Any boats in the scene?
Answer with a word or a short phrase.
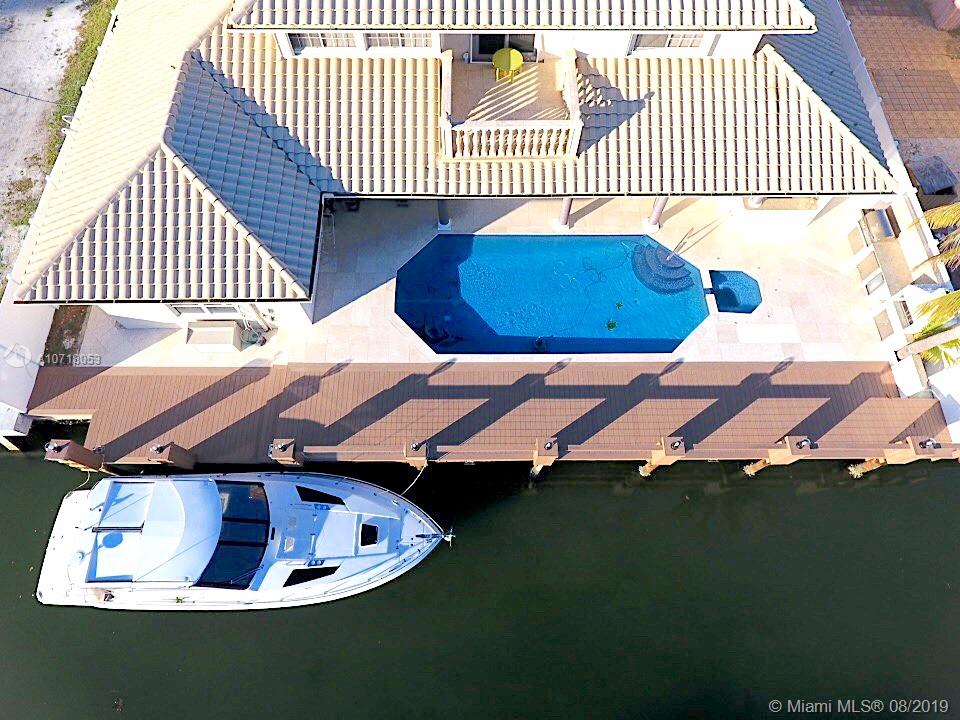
Yes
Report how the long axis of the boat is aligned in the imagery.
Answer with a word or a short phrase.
from left to right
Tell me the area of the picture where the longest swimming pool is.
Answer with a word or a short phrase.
center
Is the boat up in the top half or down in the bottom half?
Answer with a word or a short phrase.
bottom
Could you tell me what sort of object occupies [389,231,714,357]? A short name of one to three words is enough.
swimming pool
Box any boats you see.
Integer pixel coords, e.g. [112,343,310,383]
[39,468,456,613]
